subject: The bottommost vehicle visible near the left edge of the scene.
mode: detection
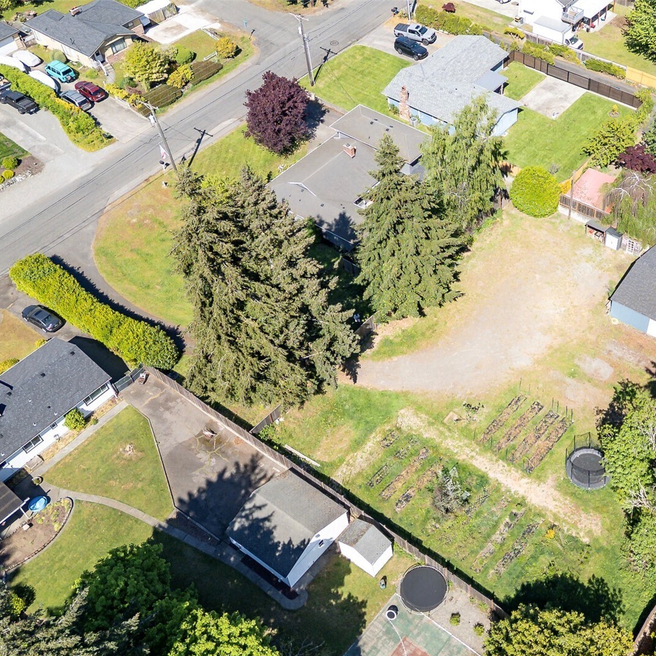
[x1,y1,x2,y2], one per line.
[15,301,66,335]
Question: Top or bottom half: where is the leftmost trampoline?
bottom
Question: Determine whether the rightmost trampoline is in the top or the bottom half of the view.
bottom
